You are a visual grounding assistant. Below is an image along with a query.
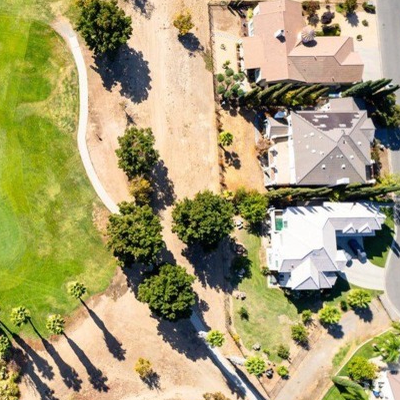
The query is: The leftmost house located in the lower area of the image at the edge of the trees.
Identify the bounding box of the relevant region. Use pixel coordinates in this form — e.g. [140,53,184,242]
[268,202,385,289]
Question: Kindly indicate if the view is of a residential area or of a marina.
residential area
